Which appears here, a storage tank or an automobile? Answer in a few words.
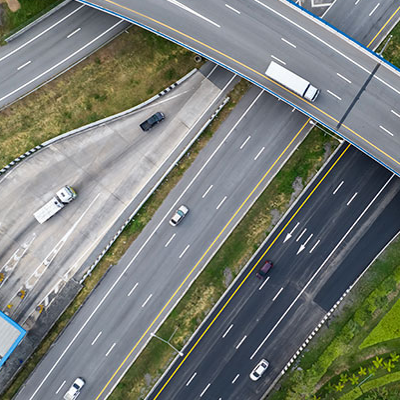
automobile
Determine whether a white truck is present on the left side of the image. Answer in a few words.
Yes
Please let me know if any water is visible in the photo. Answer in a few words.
No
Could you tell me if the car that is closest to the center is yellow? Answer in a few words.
No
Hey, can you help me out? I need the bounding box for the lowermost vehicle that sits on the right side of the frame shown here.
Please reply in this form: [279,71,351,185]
[250,356,271,380]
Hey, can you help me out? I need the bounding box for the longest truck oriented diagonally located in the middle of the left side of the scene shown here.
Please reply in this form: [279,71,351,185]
[34,188,80,223]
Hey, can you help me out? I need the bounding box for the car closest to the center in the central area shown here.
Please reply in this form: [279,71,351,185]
[169,203,191,227]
